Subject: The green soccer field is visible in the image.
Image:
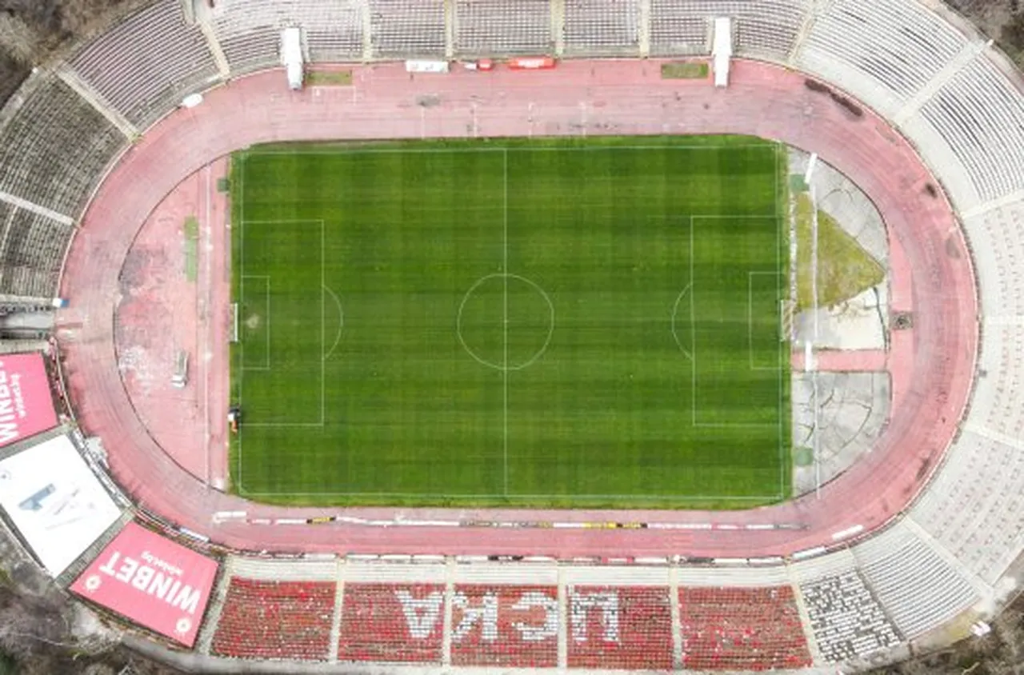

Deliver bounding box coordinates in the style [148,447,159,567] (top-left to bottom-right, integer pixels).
[230,134,796,510]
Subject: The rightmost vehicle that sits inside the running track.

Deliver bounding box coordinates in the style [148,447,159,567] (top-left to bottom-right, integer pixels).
[226,406,238,431]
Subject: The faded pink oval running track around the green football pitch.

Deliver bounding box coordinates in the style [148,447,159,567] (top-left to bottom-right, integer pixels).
[57,58,979,562]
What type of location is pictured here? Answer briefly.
sports ground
